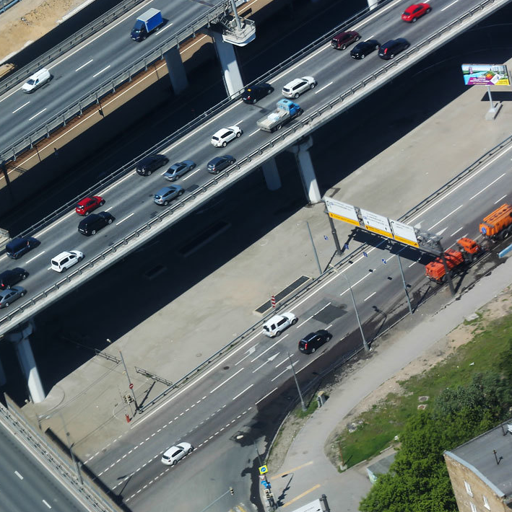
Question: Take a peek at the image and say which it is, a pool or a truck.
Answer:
truck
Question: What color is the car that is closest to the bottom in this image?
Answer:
white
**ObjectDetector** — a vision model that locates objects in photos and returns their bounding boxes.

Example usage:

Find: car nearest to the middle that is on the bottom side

[262,312,297,336]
